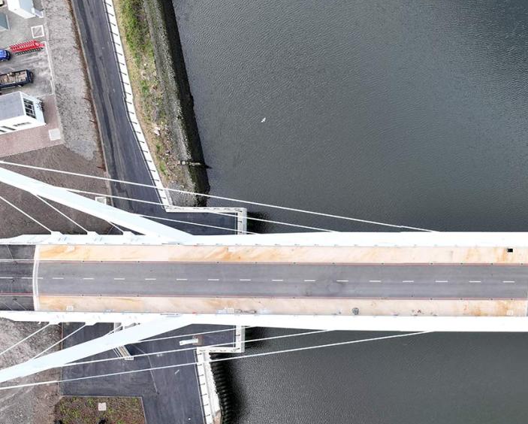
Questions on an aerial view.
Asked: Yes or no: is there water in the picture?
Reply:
Yes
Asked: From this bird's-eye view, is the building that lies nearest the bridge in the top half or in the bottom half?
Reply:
top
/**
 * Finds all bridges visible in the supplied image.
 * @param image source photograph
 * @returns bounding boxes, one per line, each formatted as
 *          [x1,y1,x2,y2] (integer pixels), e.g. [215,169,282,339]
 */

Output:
[0,159,528,389]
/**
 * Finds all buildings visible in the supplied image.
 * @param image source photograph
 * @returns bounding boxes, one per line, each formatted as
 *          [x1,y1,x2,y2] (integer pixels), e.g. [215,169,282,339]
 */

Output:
[5,0,34,18]
[0,93,45,133]
[0,11,12,32]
